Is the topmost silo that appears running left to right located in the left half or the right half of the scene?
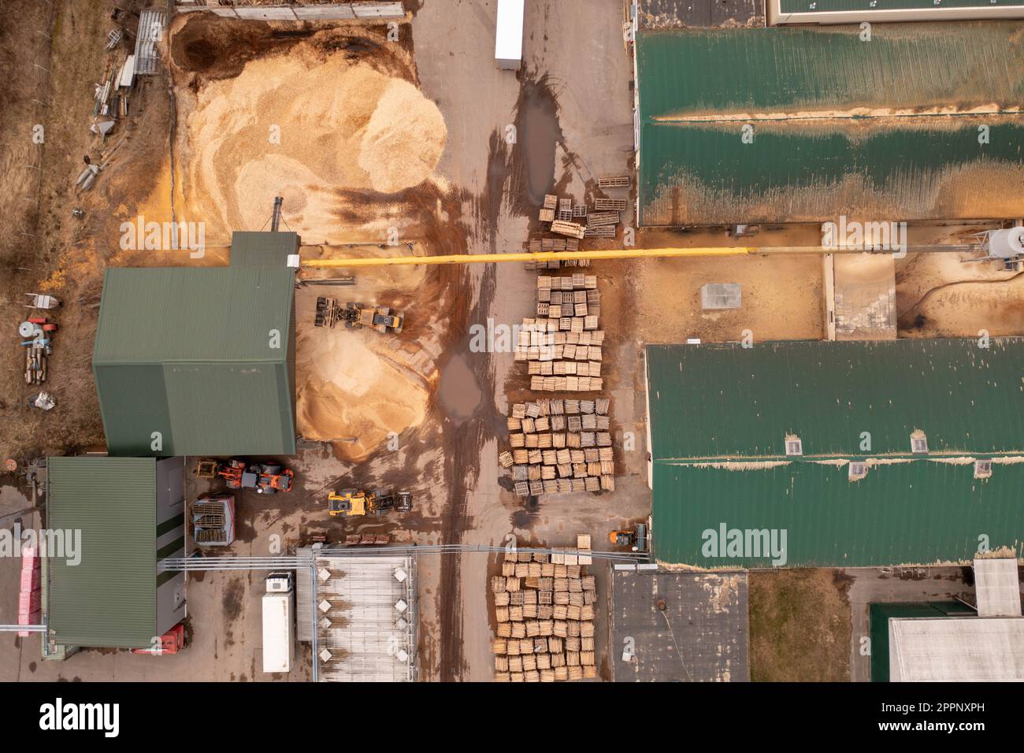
right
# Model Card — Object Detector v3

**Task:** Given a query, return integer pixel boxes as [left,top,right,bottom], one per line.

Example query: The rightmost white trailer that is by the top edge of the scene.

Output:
[495,0,525,72]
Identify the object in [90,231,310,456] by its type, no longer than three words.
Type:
shed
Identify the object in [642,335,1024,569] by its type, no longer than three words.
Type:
building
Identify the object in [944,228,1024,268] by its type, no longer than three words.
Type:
silo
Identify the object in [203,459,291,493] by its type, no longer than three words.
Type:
work vehicle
